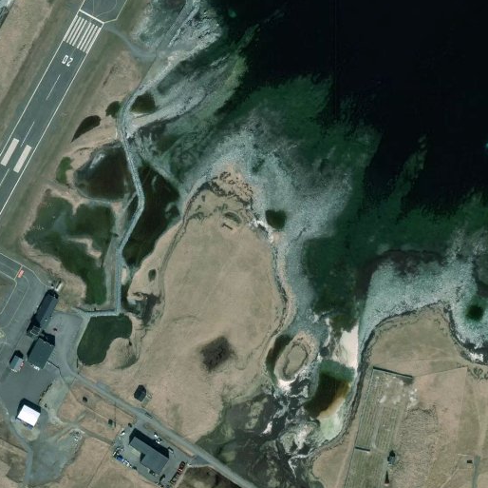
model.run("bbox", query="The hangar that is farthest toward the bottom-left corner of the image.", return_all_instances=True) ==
[17,404,40,426]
